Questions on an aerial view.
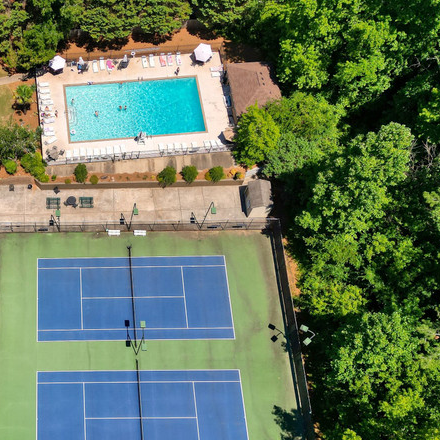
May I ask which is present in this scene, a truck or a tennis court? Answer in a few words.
tennis court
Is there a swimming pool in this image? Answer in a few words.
Yes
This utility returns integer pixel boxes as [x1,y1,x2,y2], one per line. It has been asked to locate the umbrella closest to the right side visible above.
[221,129,240,148]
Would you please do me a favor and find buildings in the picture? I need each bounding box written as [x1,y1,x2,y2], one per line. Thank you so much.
[244,173,279,216]
[226,63,288,131]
